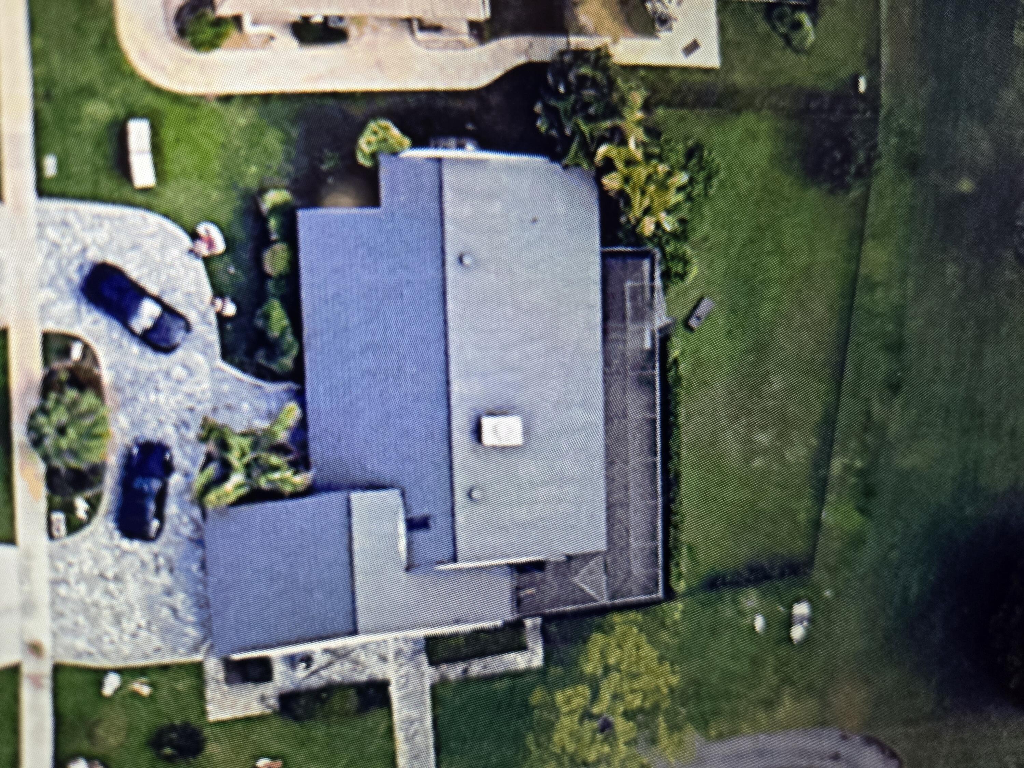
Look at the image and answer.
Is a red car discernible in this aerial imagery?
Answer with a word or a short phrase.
No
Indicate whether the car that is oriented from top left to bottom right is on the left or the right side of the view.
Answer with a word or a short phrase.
left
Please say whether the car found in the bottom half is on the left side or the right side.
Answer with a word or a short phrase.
left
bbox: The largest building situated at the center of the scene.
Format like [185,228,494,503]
[206,152,607,663]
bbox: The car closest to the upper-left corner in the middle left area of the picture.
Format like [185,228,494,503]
[77,255,196,353]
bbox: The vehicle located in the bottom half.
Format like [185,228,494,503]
[118,440,173,545]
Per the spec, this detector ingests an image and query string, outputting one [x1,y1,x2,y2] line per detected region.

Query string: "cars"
[118,440,173,545]
[77,255,196,353]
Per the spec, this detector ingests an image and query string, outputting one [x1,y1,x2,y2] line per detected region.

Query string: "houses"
[218,0,495,48]
[206,152,607,663]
